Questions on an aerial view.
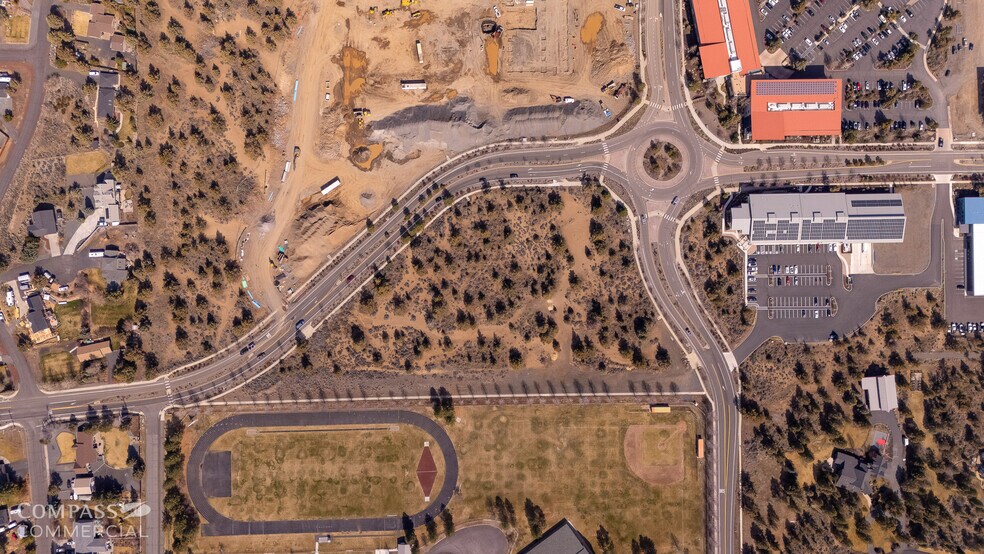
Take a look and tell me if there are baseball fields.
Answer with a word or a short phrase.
Yes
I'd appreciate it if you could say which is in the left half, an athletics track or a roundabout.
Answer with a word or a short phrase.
athletics track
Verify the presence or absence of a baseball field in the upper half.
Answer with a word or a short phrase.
No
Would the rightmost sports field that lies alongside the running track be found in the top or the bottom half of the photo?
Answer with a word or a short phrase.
bottom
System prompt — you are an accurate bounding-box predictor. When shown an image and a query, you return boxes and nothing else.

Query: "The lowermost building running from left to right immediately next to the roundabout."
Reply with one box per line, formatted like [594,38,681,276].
[723,190,906,244]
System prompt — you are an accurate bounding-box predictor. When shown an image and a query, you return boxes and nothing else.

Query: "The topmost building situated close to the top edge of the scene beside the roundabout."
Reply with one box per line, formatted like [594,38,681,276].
[688,0,762,83]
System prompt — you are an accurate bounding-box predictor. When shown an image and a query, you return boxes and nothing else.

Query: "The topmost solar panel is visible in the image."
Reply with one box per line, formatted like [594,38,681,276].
[757,82,834,94]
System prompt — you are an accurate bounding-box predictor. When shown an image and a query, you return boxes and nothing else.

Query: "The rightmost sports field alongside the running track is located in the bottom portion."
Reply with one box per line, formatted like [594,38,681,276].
[462,403,701,554]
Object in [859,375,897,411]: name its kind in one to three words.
barn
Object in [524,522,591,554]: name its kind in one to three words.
building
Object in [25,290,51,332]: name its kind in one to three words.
house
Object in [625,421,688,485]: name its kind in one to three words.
baseball field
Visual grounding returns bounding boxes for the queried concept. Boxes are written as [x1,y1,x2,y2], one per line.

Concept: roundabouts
[601,101,743,243]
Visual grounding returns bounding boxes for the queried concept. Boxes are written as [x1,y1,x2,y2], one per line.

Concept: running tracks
[186,410,458,536]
